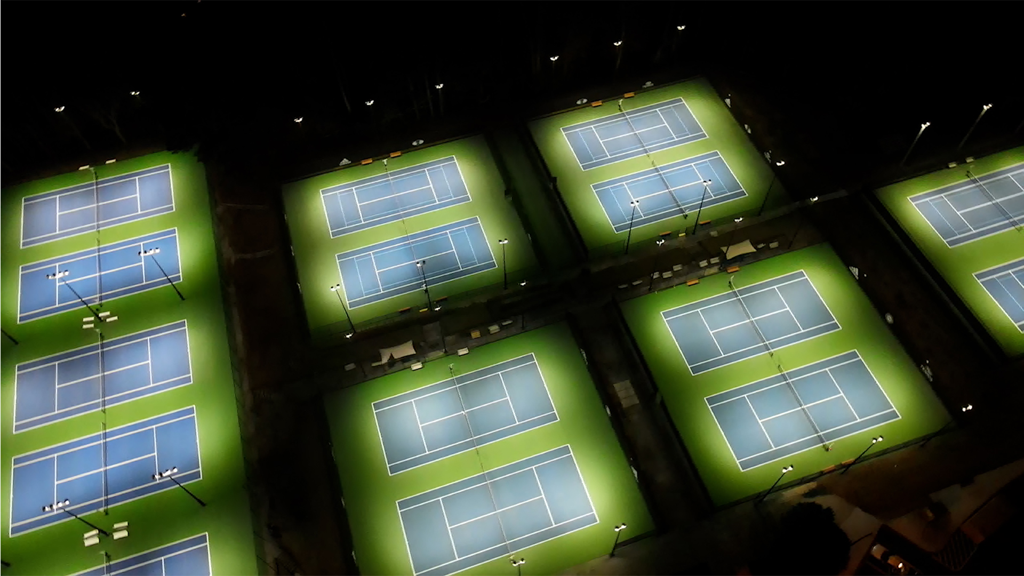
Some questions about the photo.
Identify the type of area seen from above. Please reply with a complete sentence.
This looks like a sports ground.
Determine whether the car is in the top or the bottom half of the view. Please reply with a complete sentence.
Seen from above, the car lies in the bottom half of the view.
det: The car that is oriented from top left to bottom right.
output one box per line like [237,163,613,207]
[872,543,913,576]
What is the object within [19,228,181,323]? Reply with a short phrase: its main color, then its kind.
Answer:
blue tennis court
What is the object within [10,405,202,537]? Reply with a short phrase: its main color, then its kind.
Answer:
blue tennis court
